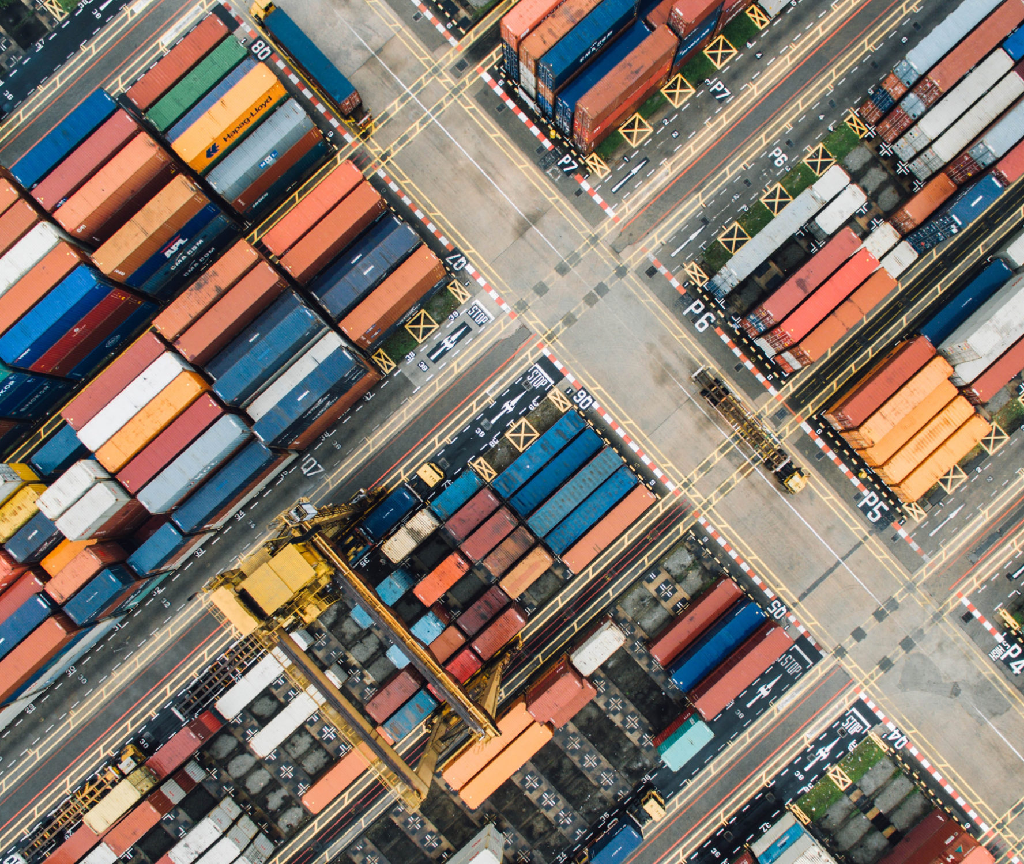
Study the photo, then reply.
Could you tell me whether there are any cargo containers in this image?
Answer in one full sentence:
Yes, the picture does show a cargo container.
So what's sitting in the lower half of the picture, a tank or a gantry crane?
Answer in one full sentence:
The one visible in the lower half of the picture is a gantry crane.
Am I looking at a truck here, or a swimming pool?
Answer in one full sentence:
There is a truck in the scene.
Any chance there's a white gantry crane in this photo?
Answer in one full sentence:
No, the scene contains no white gantry crane.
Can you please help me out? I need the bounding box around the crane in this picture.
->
[194,480,531,806]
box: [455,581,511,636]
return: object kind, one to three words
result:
shipping container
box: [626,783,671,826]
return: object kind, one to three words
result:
truck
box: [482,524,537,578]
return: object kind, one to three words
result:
shipping container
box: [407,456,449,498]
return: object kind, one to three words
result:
truck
